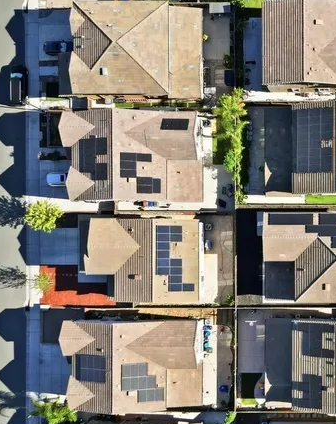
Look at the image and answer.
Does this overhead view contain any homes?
Yes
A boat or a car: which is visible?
car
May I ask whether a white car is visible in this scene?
No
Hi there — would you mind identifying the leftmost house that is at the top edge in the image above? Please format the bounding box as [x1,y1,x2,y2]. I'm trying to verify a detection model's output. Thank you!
[58,1,203,100]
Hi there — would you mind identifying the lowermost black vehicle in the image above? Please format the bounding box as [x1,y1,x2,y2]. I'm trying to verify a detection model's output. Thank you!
[9,67,28,108]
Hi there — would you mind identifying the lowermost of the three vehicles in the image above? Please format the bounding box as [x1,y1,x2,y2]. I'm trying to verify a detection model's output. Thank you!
[44,171,69,188]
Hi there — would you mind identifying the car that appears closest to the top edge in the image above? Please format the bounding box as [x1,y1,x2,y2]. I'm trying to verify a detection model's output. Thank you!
[42,38,73,57]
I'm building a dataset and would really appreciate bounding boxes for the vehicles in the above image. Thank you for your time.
[42,38,73,57]
[44,171,69,188]
[9,67,28,108]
